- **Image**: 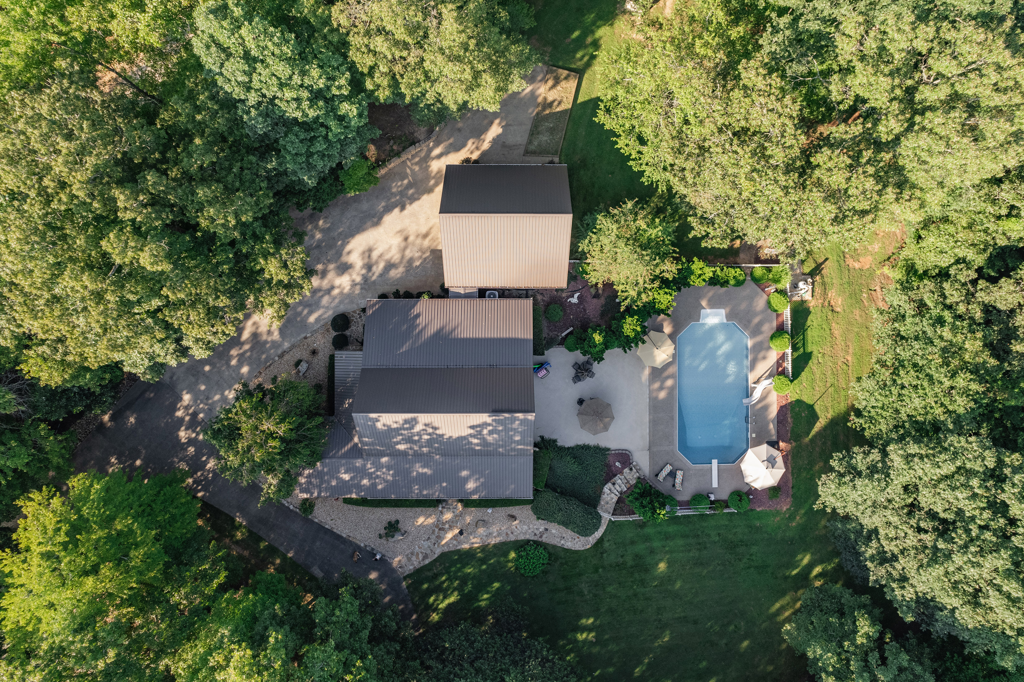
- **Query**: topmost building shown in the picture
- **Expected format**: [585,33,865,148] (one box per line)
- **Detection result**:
[439,163,573,289]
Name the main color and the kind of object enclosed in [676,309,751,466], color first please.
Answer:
blue swimming pool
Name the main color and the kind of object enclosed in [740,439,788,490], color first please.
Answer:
white umbrella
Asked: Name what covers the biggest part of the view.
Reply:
trees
